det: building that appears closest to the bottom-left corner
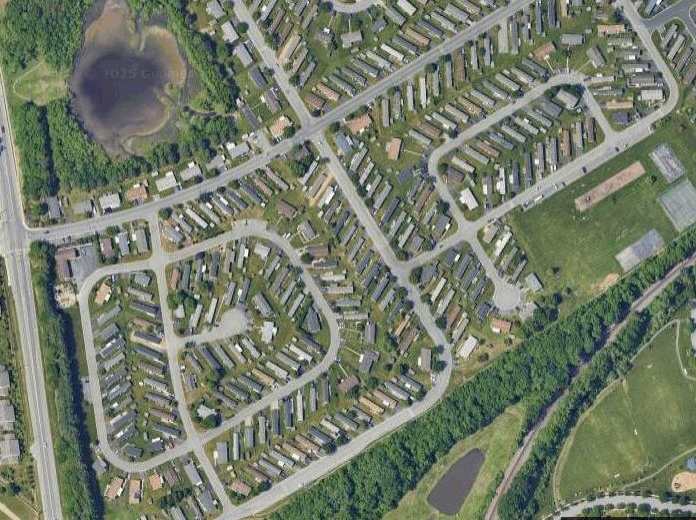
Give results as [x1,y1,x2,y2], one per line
[0,434,20,464]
